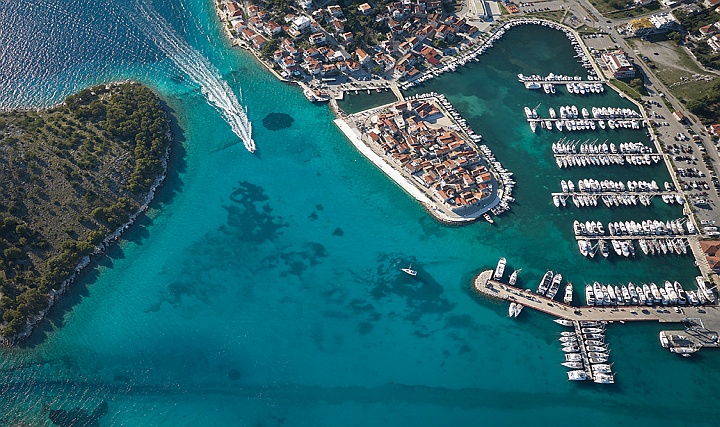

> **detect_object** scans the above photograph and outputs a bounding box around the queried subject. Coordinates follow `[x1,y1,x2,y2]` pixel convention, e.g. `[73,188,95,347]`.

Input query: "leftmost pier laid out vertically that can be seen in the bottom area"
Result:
[574,321,593,380]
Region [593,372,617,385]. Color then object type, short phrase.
white boat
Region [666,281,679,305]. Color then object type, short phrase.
white boat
